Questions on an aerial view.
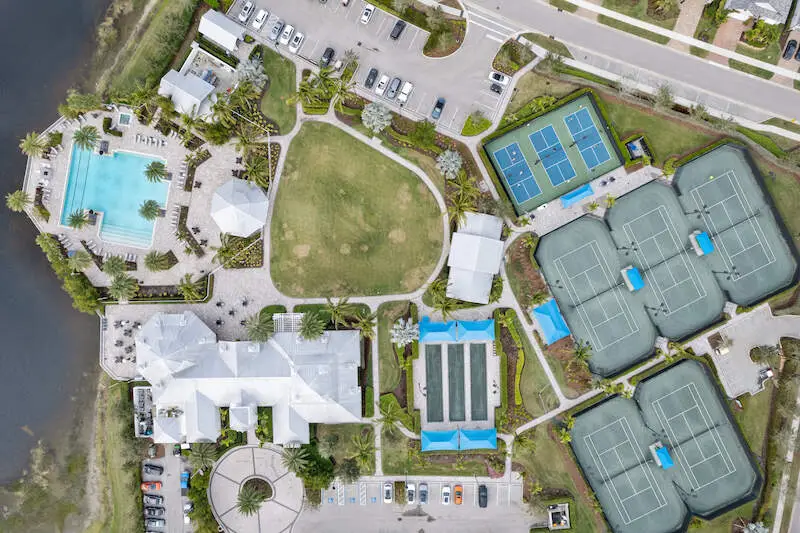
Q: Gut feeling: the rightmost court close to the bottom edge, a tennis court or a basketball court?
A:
tennis court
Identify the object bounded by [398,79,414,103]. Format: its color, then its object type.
white vehicle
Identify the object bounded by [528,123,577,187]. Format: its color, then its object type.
blue sports court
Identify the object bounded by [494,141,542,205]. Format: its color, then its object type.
blue sports court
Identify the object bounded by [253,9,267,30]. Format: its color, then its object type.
white car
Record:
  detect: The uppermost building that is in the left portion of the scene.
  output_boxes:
[198,9,245,54]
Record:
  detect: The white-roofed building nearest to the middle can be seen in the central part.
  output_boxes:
[446,211,505,304]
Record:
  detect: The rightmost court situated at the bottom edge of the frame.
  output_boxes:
[638,361,759,515]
